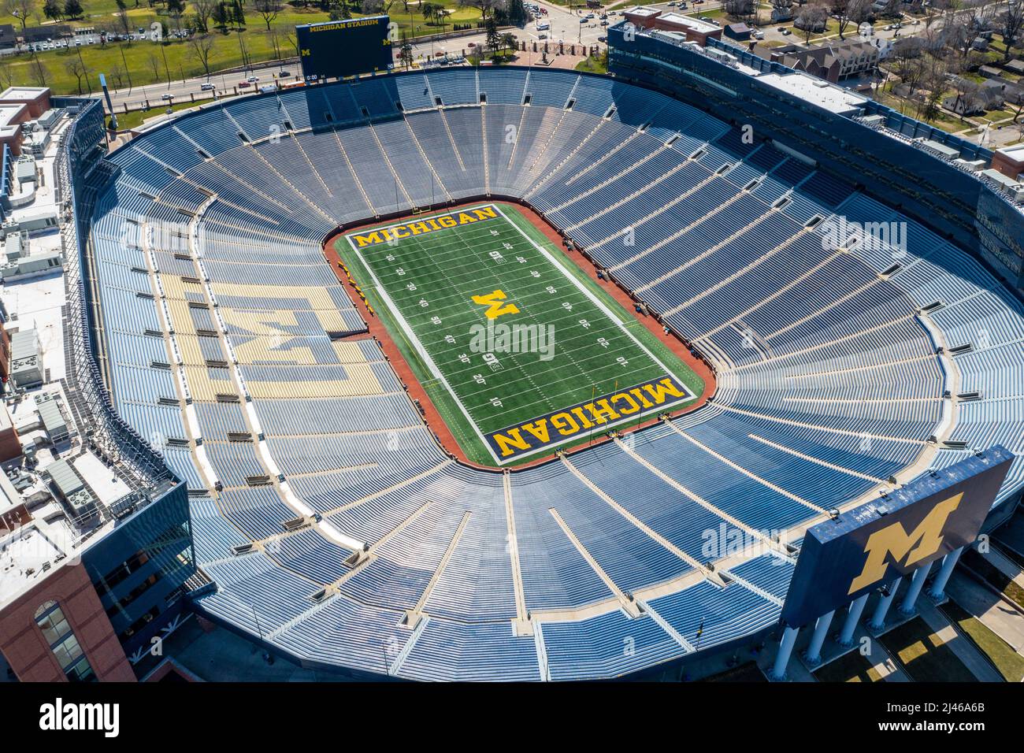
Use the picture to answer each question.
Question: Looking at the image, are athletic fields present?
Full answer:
Yes, the photo shows an athletic field.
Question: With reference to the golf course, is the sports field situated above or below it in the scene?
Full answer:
Looking at the scene, the sports field is located below the golf course.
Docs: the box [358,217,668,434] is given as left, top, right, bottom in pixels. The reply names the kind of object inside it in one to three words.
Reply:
sports field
